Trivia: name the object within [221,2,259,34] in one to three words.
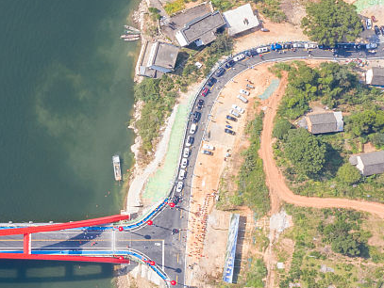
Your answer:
house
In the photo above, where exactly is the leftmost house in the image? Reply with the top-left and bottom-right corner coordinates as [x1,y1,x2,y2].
[135,41,180,77]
